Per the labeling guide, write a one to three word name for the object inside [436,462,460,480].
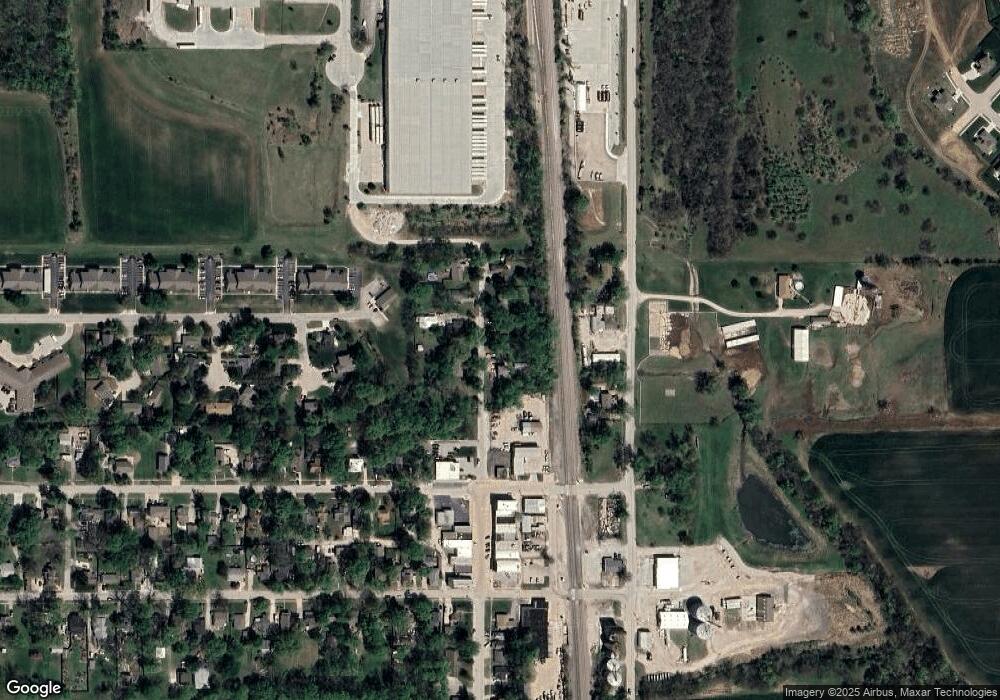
building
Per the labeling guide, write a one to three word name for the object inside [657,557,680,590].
shed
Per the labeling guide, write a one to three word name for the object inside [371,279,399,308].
house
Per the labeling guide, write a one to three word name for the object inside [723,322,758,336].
barn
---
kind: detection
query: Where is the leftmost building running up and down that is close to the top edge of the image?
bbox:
[388,0,473,195]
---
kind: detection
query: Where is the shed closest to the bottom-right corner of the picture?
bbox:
[757,596,775,622]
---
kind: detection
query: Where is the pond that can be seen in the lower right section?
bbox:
[737,474,809,550]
